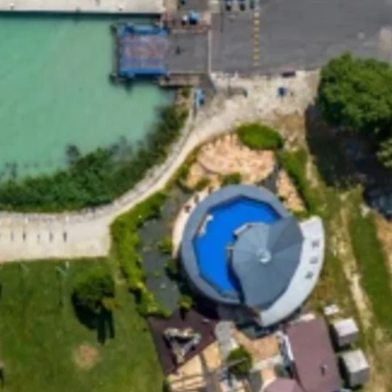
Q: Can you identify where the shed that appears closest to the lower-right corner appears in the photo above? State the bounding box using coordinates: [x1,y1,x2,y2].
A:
[338,349,369,387]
